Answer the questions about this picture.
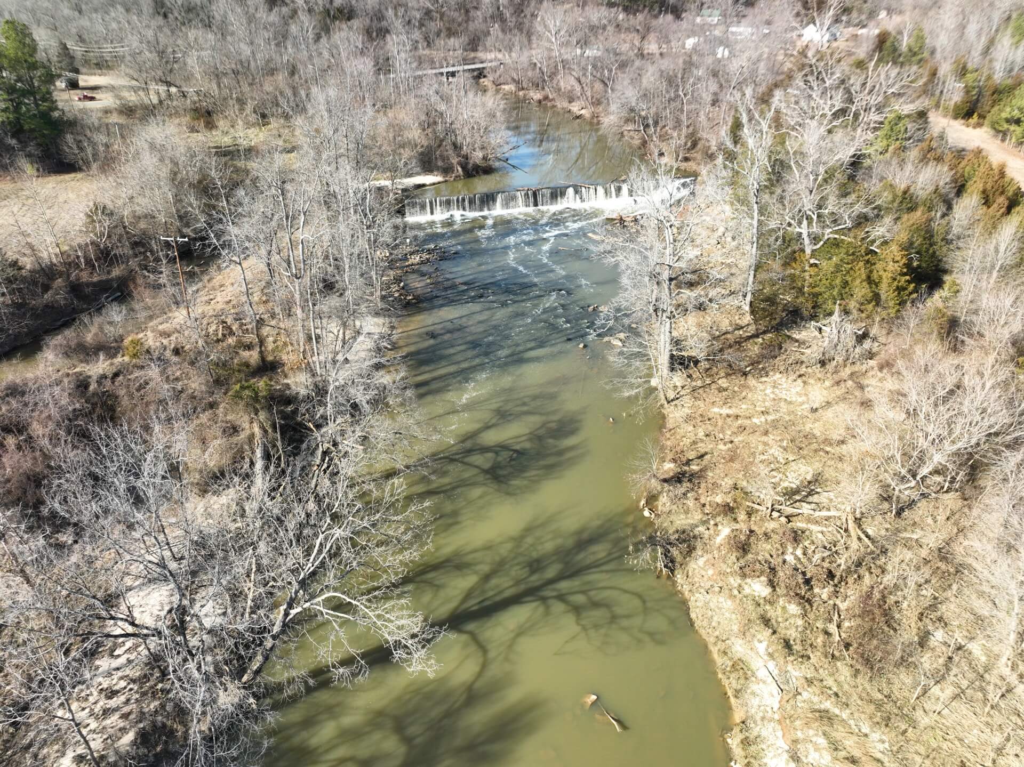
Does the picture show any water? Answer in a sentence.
Yes, the picture does contain water.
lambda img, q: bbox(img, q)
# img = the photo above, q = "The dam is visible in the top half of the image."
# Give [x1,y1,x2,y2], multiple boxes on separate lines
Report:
[355,183,647,220]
